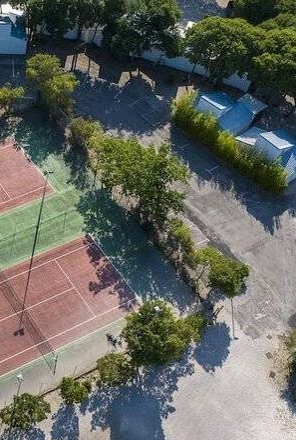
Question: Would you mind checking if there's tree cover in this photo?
Yes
